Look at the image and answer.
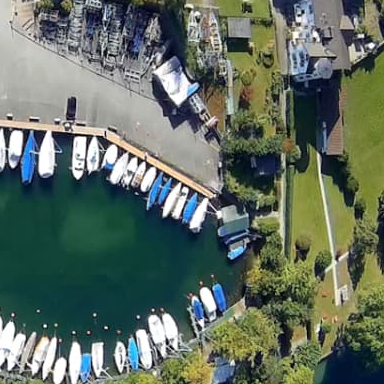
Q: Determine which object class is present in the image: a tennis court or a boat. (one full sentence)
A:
The image shows a boat.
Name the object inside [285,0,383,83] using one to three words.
house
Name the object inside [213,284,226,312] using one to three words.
boat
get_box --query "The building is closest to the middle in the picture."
[219,205,249,232]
